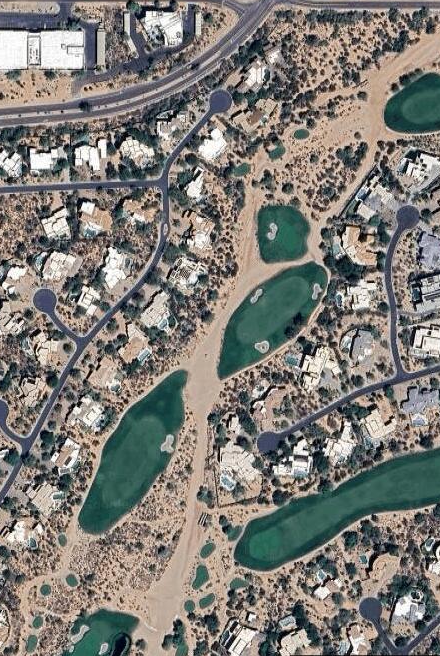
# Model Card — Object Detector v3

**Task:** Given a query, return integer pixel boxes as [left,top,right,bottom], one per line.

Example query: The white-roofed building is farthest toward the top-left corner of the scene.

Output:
[0,29,84,69]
